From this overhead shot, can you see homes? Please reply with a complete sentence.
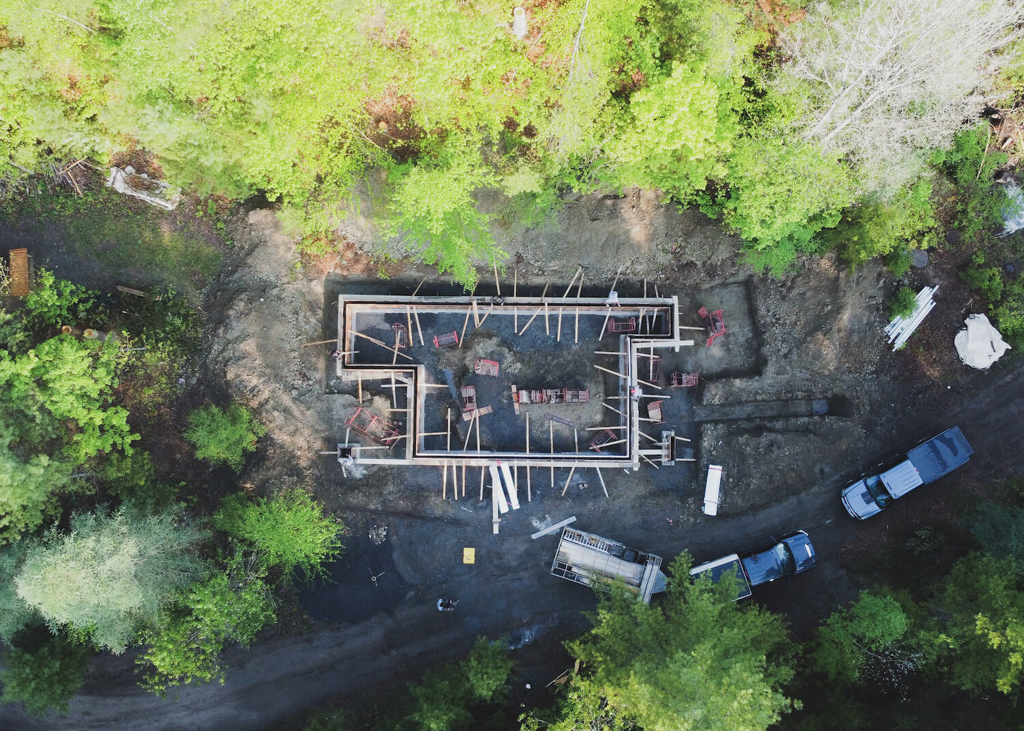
No, this view has no home in it.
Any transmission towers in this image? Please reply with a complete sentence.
No, I find no transmission tower anywhere in the image.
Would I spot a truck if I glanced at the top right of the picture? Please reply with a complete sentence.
No, no truck can be made out at the top right of the picture.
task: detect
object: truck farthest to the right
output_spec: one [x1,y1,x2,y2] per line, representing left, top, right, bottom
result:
[850,434,972,517]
